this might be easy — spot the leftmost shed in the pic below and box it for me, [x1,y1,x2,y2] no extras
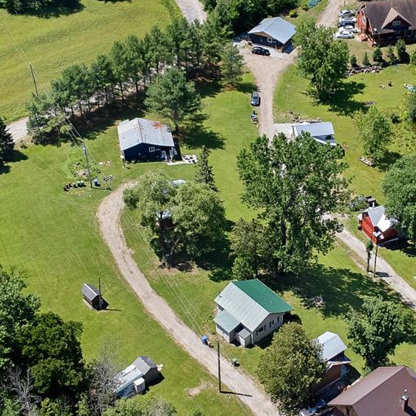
[79,283,103,310]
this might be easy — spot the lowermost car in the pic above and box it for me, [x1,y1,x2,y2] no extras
[296,397,330,416]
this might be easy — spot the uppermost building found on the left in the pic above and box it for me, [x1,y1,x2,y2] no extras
[117,117,173,161]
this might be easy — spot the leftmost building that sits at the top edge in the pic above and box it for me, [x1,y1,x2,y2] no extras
[247,17,298,51]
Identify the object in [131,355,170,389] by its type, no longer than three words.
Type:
shed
